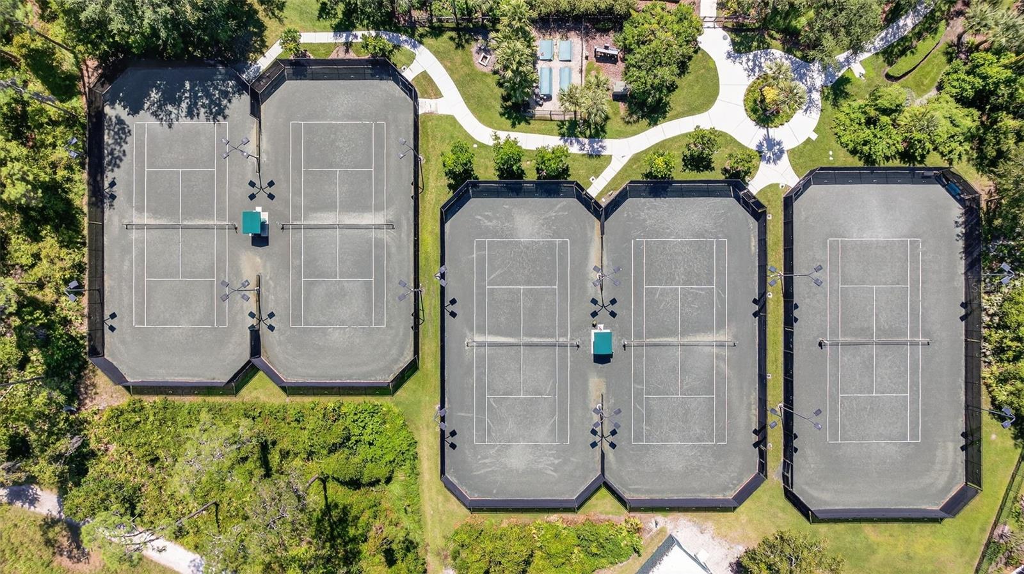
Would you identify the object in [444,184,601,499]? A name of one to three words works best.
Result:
tennis court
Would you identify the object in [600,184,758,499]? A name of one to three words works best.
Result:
tennis court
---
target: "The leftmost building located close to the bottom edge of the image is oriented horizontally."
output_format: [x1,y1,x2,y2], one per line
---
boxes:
[628,533,713,574]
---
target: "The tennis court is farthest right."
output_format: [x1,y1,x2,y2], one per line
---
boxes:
[784,171,965,510]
